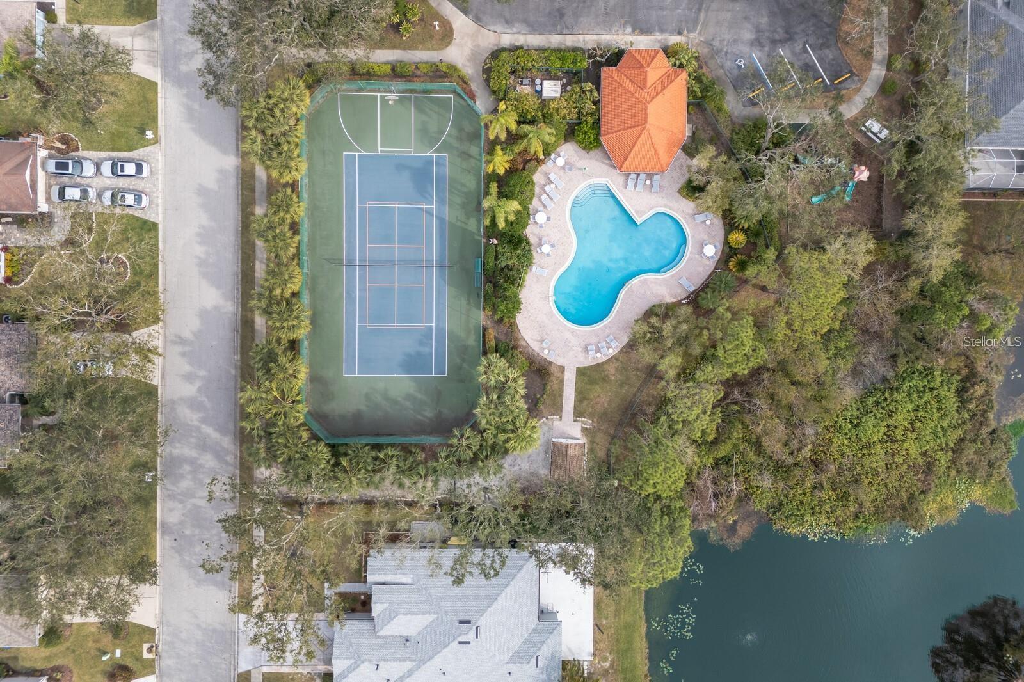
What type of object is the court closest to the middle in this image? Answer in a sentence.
In the photo, the court closest to the middle shows up as a tennis court.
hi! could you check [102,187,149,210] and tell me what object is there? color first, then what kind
white car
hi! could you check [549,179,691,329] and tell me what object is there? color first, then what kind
blue swimming pool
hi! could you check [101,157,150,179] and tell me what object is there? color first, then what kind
white car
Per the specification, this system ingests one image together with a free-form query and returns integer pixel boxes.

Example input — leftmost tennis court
[310,91,480,435]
